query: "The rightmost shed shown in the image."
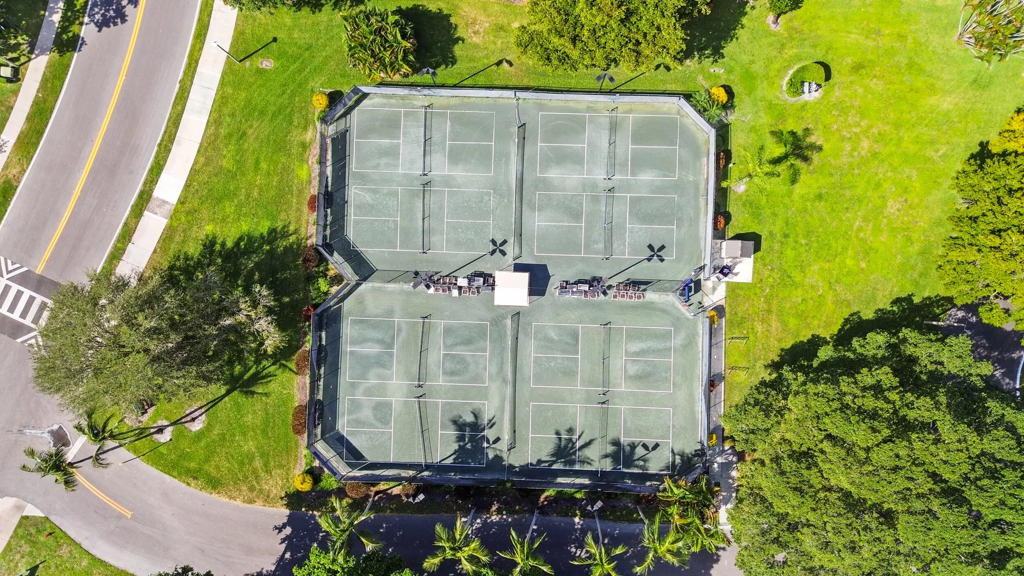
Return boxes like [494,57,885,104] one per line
[719,239,755,260]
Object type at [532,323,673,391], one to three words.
sports court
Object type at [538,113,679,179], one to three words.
sports court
